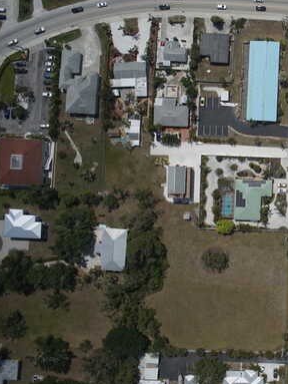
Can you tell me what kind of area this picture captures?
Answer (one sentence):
It's a residential area.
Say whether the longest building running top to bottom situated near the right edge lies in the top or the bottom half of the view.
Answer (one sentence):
It is in the top half that the longest building running top to bottom situated near the right edge appears.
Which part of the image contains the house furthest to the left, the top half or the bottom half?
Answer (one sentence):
The house furthest to the left is in the bottom half of the image.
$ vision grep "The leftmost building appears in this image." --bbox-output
[0,359,25,384]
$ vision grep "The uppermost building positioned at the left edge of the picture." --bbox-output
[0,139,55,185]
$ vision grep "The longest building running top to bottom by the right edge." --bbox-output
[246,39,285,122]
